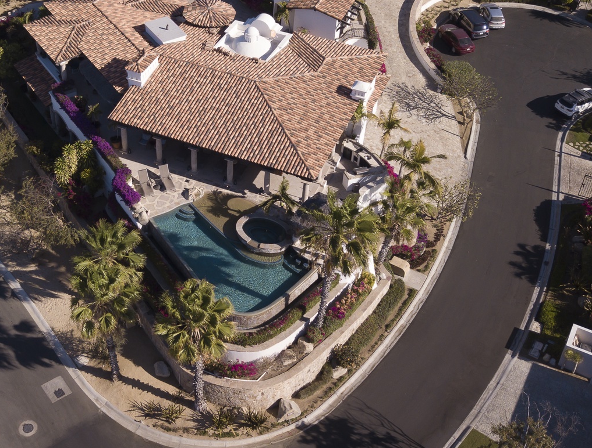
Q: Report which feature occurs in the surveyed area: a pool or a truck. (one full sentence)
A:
There is a pool in the scene.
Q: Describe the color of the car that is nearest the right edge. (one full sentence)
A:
The color of the car that is nearest the right edge is black.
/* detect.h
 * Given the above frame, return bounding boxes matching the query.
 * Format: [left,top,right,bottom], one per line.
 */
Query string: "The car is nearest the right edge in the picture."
[558,85,592,113]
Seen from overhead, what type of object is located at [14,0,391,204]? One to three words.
house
